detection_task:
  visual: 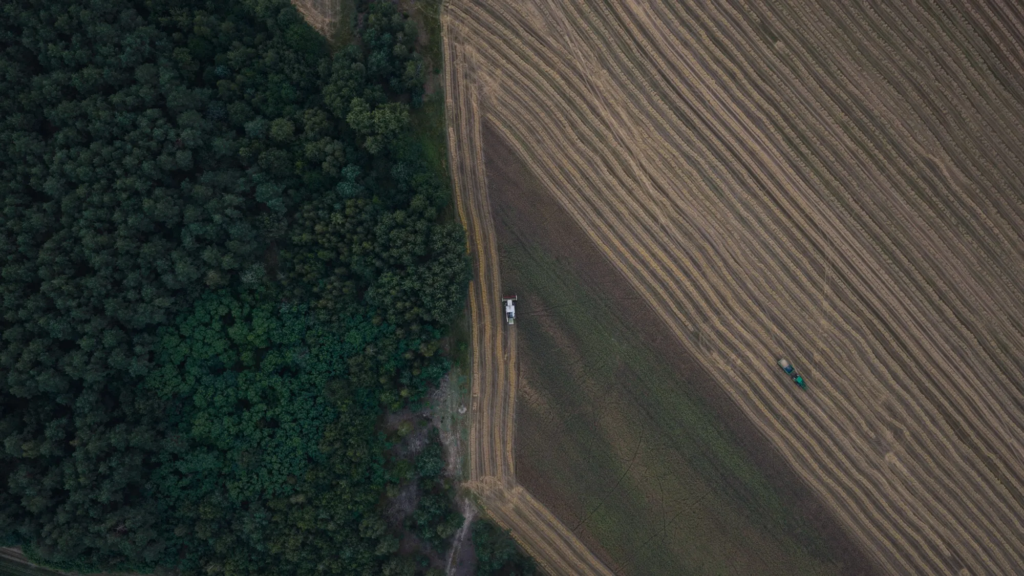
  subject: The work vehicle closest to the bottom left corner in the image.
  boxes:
[502,295,518,326]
